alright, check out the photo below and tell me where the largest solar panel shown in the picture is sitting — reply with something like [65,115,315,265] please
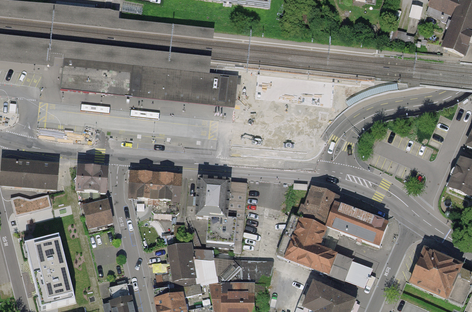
[332,218,375,242]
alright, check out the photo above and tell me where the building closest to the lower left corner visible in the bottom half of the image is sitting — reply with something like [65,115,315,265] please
[24,232,76,312]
